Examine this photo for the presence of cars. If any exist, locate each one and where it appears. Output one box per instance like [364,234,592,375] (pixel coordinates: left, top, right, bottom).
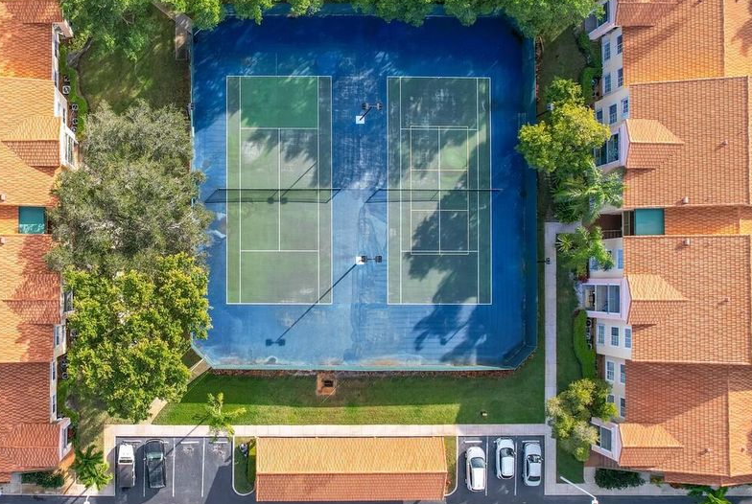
[143,437,168,490]
[520,441,546,487]
[493,435,518,481]
[465,444,489,492]
[113,440,138,495]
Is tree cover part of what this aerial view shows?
Yes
